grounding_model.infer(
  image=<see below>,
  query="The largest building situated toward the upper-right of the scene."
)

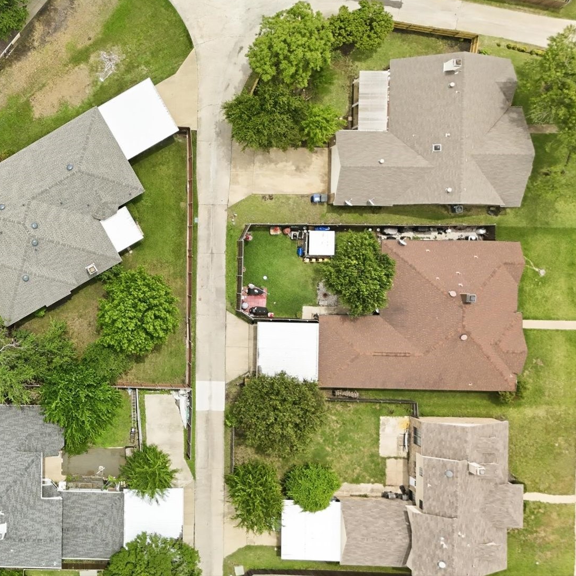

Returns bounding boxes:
[330,52,534,207]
